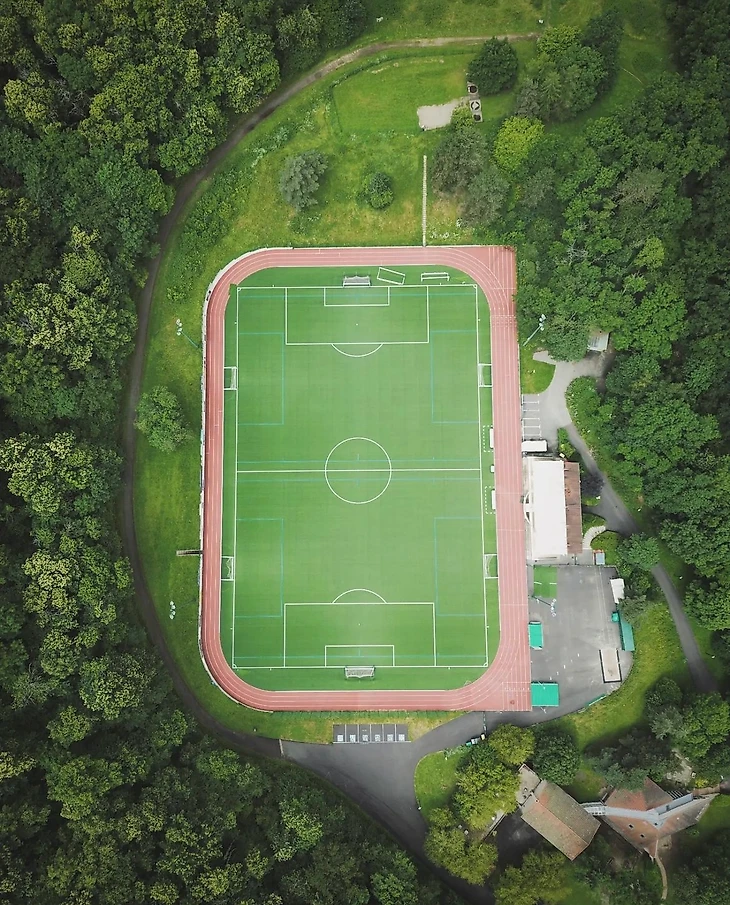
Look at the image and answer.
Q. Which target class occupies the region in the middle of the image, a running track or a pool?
running track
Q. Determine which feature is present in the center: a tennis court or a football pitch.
football pitch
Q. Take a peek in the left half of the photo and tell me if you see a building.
No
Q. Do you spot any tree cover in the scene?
Yes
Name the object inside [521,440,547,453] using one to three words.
building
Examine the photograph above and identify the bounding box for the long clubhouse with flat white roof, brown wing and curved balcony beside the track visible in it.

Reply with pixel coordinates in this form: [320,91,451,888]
[522,456,582,558]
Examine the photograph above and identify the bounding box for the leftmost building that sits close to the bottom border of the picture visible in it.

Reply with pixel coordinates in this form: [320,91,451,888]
[511,763,601,861]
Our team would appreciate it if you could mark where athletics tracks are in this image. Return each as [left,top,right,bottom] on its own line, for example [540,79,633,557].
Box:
[201,246,531,711]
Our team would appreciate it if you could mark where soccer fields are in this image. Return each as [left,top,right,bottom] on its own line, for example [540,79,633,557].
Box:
[220,265,499,691]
